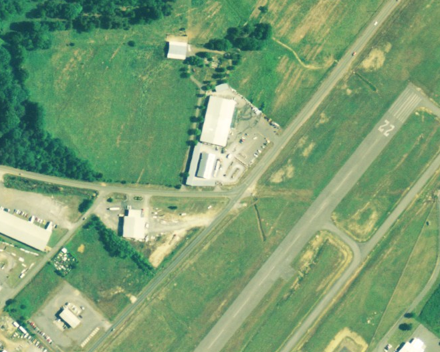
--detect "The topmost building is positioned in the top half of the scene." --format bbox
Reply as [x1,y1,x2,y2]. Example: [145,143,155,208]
[167,41,187,60]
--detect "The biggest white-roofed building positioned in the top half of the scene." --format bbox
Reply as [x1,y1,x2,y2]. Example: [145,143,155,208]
[200,95,238,147]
